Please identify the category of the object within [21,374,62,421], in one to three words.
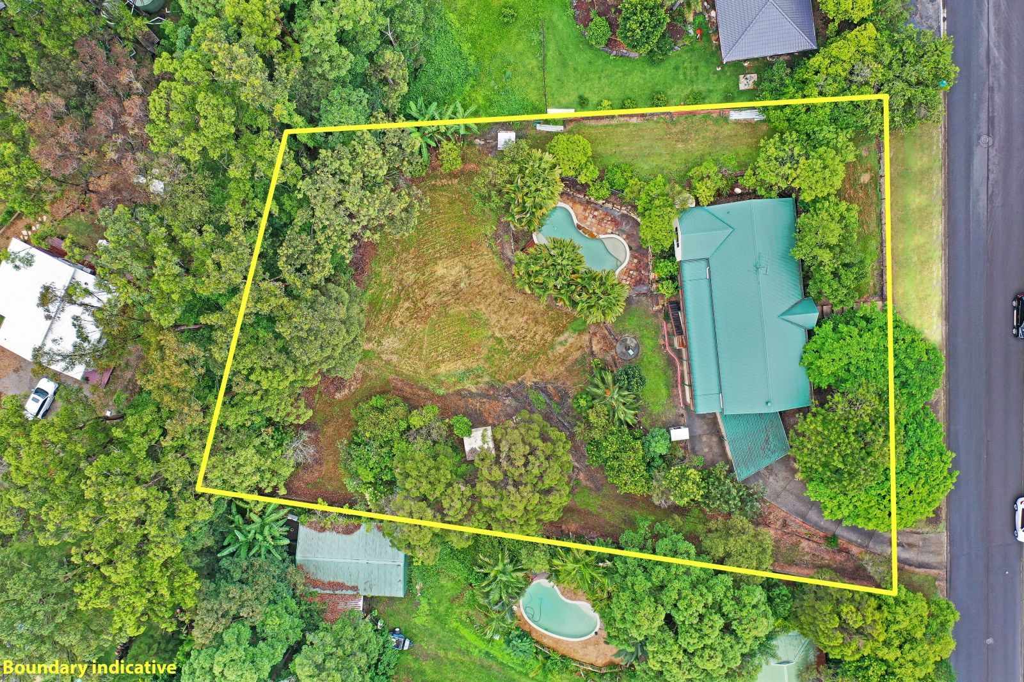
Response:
car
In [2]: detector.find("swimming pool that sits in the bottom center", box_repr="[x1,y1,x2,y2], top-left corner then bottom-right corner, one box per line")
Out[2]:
[520,579,600,641]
